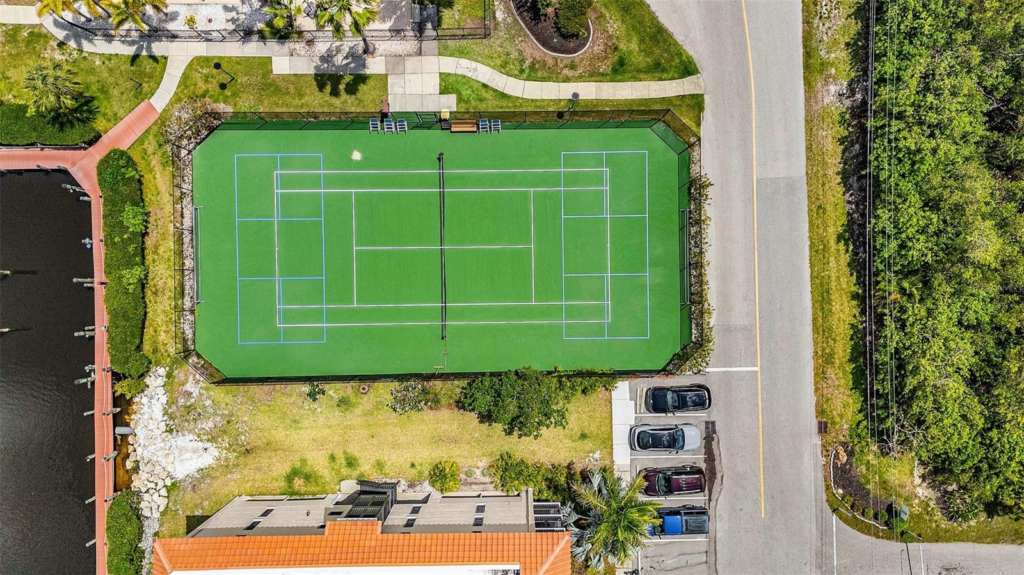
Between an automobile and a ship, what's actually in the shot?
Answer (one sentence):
The image shows an automobile.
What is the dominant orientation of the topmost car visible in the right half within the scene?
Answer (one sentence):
I'd say the topmost car visible in the right half is aligned horizontally in the picture.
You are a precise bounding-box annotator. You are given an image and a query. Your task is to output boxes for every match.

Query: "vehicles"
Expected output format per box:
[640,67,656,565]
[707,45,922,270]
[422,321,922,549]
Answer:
[646,386,714,418]
[638,507,710,541]
[633,426,701,458]
[639,469,708,503]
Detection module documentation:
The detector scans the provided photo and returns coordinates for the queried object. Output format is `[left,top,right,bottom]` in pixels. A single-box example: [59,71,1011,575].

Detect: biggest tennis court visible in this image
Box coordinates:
[191,120,693,378]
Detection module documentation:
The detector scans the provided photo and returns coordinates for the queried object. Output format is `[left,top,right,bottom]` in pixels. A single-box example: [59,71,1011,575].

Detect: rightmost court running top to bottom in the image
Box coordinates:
[561,151,649,339]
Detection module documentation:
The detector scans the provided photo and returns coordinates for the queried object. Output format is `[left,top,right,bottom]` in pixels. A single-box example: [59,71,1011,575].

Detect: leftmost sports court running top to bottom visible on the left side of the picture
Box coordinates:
[235,153,325,344]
